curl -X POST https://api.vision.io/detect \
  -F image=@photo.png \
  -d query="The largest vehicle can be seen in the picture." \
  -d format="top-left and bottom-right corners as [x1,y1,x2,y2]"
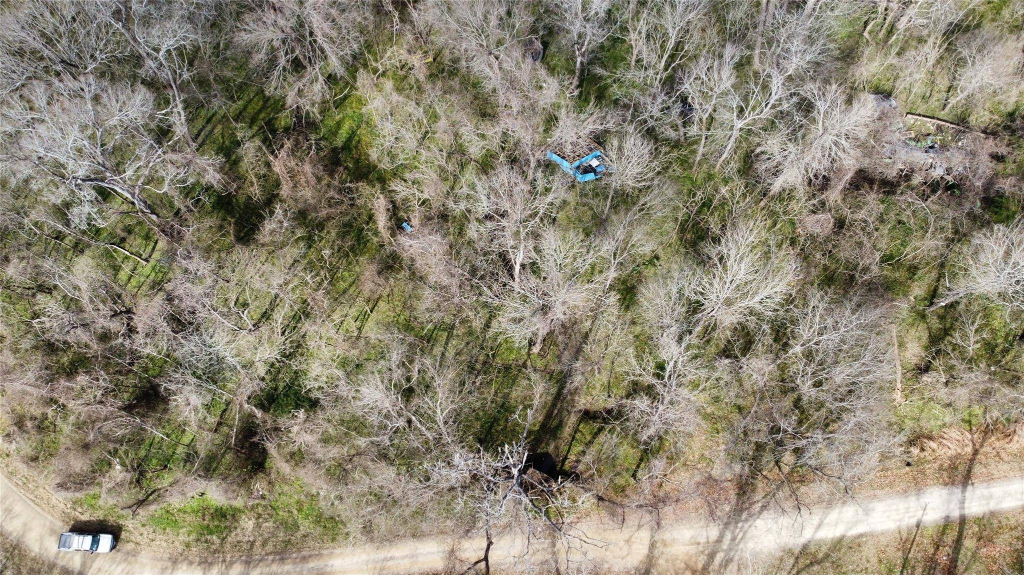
[57,532,117,557]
